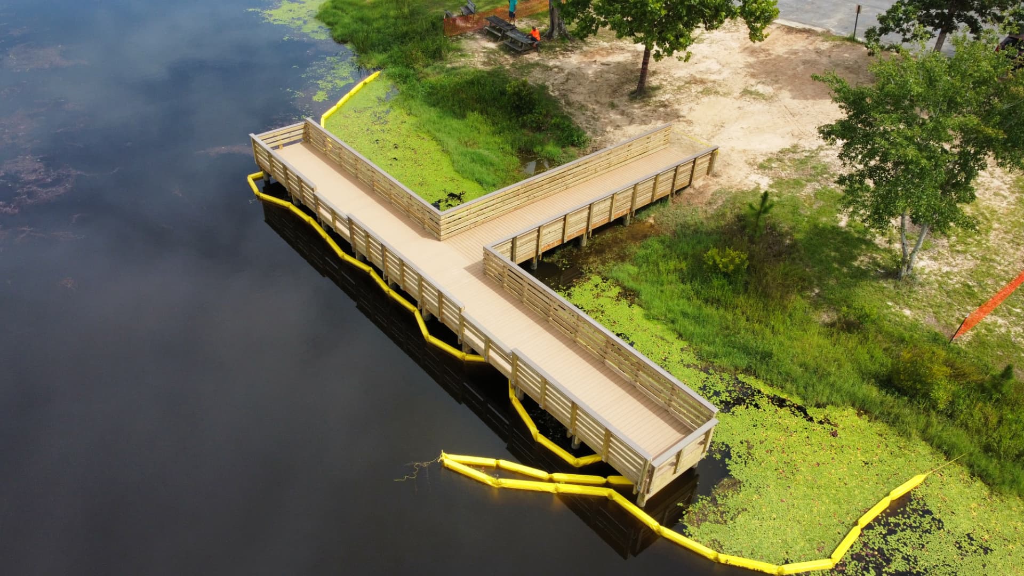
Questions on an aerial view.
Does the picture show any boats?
No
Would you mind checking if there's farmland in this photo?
No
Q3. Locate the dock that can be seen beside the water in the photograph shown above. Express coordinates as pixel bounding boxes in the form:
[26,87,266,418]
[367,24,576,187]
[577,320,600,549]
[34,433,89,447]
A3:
[249,118,720,505]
